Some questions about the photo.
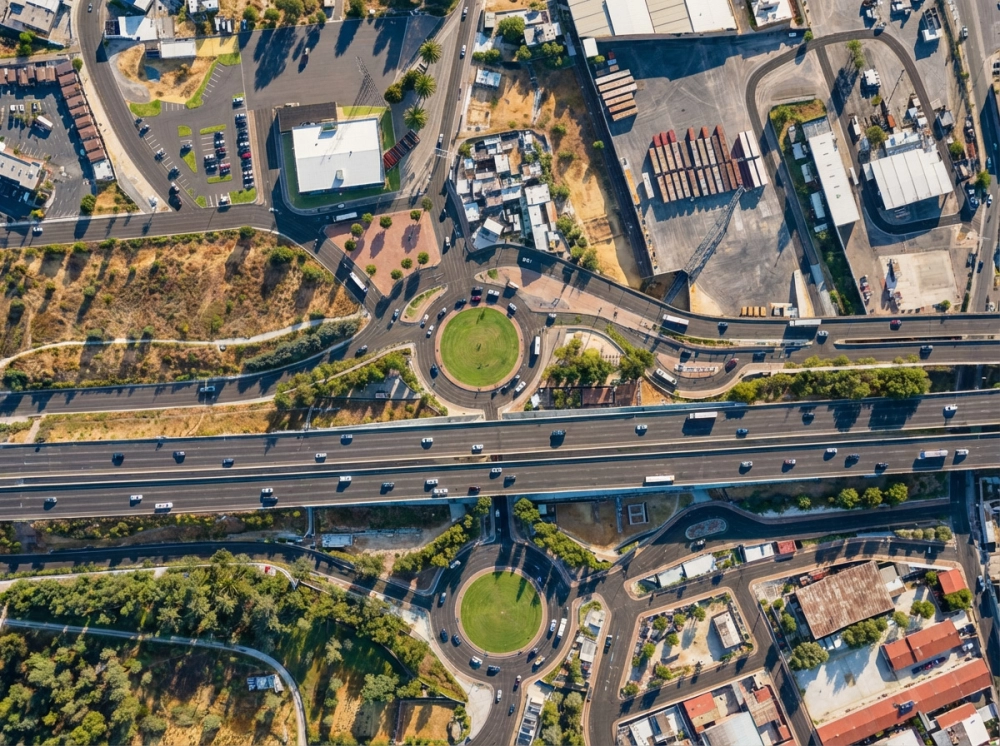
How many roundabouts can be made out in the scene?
2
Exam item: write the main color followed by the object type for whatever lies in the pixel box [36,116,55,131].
white vehicle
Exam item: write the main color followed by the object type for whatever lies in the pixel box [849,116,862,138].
white vehicle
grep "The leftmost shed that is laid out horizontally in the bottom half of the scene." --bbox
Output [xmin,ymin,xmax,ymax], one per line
[244,674,277,689]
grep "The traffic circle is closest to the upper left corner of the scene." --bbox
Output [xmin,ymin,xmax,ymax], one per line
[414,281,546,413]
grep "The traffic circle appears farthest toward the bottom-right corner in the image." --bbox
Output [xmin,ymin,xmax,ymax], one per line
[433,543,570,682]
